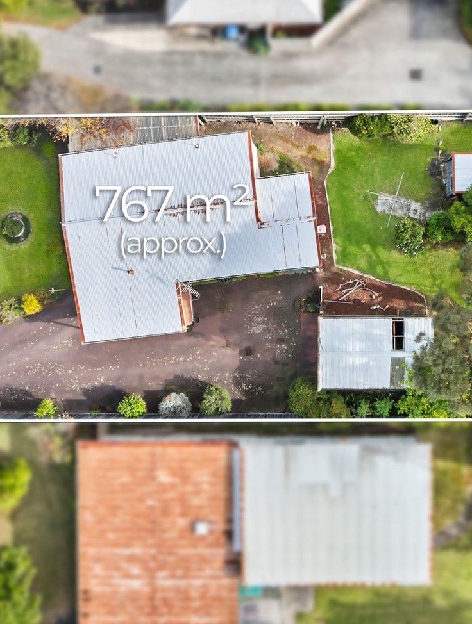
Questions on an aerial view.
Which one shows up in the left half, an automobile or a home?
home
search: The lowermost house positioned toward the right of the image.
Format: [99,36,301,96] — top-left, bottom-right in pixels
[208,435,434,588]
